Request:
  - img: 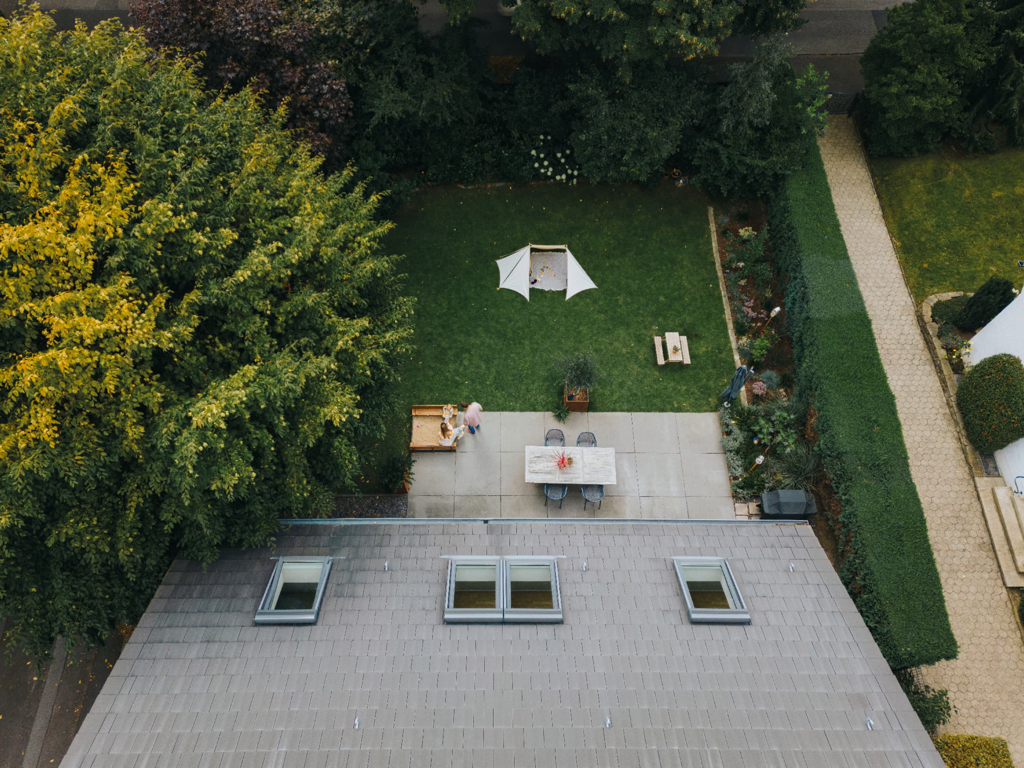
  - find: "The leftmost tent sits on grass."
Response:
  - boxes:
[496,242,597,302]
